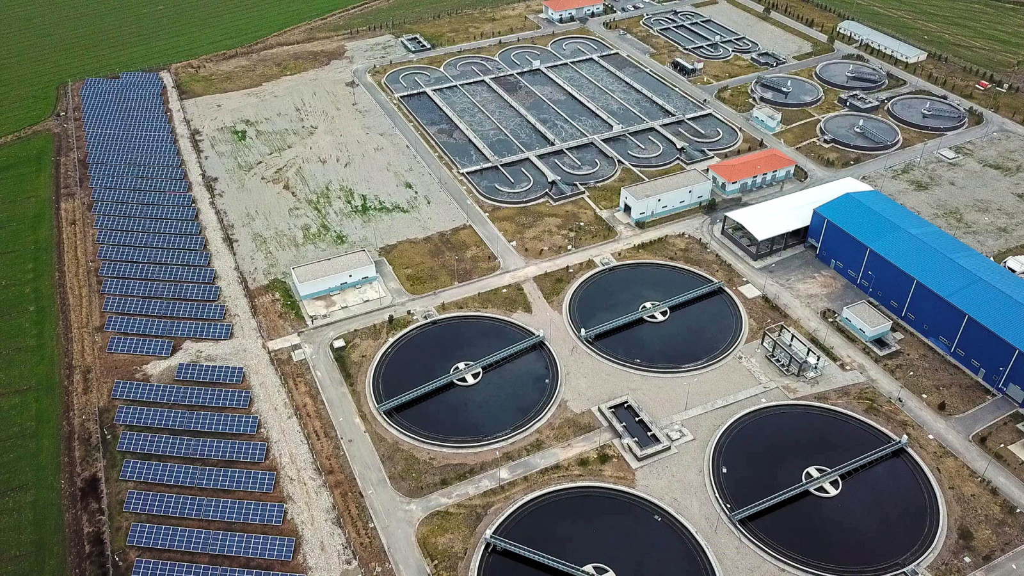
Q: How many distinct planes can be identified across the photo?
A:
zero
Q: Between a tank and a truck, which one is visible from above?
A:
tank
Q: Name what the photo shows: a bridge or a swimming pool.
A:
bridge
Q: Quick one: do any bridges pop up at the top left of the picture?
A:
No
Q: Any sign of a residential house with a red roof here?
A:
Yes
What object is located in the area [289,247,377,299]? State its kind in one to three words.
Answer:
house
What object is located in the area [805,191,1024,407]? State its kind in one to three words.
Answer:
building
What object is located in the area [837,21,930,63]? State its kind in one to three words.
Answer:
building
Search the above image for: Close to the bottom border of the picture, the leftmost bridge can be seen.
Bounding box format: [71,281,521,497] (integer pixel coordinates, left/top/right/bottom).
[477,539,602,576]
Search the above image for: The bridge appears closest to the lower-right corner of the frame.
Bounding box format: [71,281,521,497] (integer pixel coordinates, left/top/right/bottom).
[728,437,910,526]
